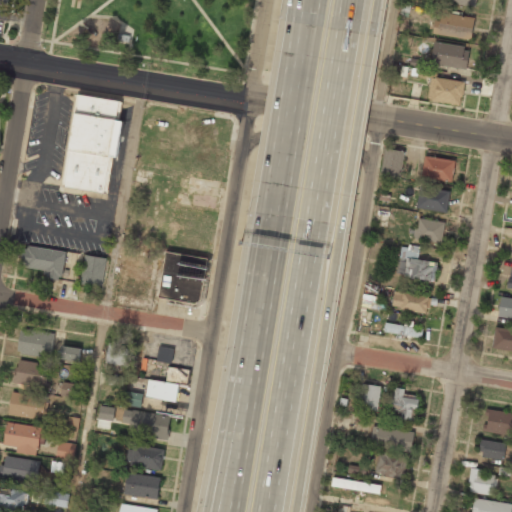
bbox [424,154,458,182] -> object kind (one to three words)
house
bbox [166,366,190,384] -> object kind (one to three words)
building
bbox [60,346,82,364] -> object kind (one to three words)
building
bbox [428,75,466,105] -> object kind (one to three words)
house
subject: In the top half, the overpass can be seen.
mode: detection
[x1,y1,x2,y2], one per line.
[258,83,375,148]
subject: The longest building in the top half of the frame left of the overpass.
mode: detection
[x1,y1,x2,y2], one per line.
[62,95,123,200]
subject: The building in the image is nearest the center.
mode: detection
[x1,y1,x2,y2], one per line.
[159,250,209,302]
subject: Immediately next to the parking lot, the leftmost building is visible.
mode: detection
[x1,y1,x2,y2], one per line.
[24,246,66,282]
